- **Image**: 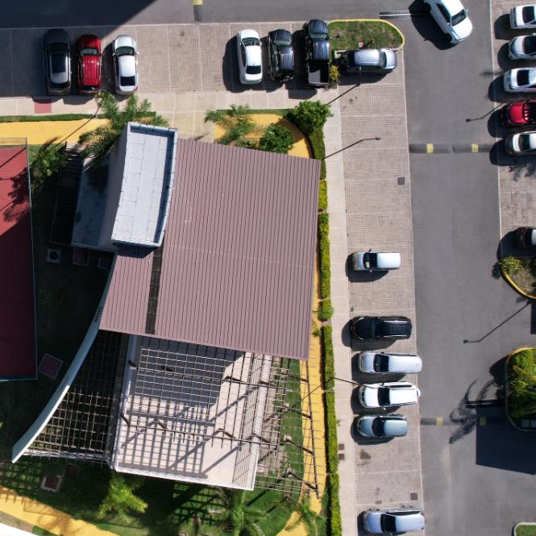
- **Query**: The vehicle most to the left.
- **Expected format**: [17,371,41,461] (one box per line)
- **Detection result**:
[42,28,74,95]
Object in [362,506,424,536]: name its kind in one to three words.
car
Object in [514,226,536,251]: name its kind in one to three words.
car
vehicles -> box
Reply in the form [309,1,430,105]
[362,506,424,536]
[358,382,423,413]
[352,248,402,275]
[111,34,140,95]
[499,98,536,129]
[355,414,408,443]
[341,43,398,76]
[506,132,536,158]
[502,66,536,94]
[42,28,74,95]
[236,28,266,85]
[507,31,536,61]
[302,17,337,89]
[423,0,473,44]
[267,28,299,82]
[509,4,536,31]
[514,226,536,251]
[76,33,105,93]
[358,350,421,379]
[350,313,412,344]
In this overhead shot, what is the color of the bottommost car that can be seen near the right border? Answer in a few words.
black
